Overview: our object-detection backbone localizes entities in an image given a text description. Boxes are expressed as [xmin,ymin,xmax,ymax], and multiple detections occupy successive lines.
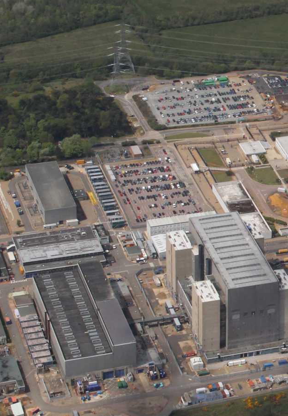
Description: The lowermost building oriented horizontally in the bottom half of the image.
[190,390,224,407]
